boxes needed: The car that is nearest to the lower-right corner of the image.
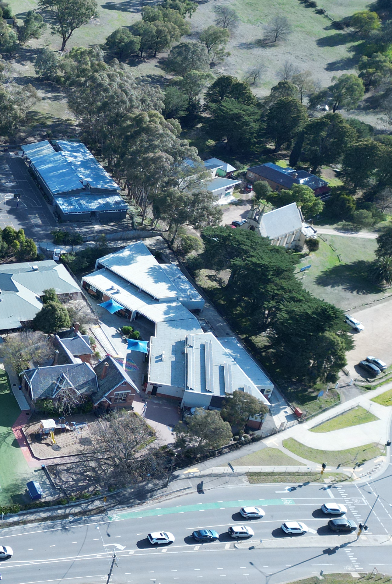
[327,518,357,532]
